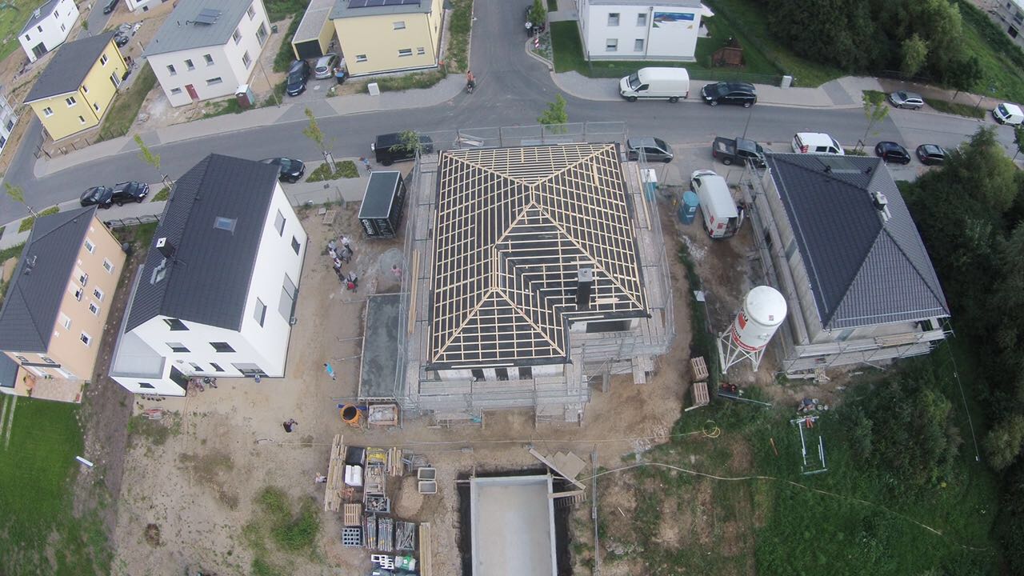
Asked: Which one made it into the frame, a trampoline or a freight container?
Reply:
freight container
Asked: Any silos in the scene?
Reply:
Yes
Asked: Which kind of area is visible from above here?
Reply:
residential area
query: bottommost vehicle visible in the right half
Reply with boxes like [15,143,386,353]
[695,172,753,247]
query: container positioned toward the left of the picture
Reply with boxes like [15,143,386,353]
[359,171,404,238]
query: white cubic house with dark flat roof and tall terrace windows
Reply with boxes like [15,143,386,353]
[10,0,80,63]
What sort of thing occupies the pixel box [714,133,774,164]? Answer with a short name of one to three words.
truck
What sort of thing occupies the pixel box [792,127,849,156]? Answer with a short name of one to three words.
vehicle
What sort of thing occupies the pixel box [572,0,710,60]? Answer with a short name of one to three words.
house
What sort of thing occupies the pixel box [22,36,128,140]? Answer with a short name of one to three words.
house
